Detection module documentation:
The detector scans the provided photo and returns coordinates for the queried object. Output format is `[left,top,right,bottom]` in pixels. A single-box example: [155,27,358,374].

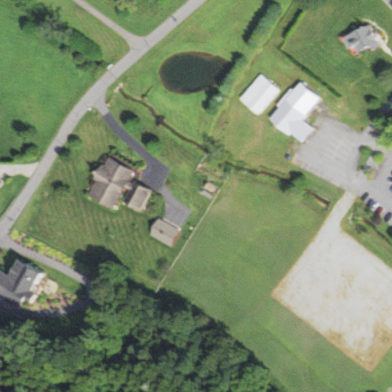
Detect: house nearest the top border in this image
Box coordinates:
[338,25,382,57]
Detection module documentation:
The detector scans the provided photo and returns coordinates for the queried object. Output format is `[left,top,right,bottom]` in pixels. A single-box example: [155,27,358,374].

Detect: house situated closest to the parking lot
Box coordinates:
[270,82,322,144]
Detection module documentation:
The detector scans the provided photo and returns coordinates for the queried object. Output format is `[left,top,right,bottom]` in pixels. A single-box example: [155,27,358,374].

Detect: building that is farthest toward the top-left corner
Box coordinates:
[89,160,136,211]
